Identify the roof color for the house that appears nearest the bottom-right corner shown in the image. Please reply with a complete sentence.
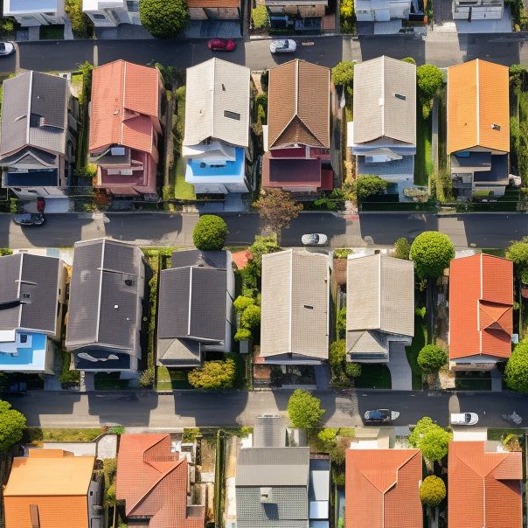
The roof over the house that appears nearest the bottom-right corner appears red.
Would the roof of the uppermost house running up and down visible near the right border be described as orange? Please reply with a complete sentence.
Yes, the roof of the uppermost house running up and down visible near the right border appears orange.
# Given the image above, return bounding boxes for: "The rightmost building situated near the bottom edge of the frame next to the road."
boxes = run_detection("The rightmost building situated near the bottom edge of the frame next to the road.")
[448,441,522,528]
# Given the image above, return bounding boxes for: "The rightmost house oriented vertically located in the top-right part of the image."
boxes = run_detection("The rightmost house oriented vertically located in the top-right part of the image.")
[448,63,508,203]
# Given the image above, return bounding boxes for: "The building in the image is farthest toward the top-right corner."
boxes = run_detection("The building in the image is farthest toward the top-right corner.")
[452,0,503,26]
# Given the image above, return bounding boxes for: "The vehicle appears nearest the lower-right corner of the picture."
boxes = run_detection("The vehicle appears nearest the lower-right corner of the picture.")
[450,411,476,427]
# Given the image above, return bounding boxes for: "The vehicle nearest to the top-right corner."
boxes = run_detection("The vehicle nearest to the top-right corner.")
[270,38,295,53]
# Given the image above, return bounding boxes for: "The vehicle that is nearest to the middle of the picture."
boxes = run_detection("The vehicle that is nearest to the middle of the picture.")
[301,233,327,246]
